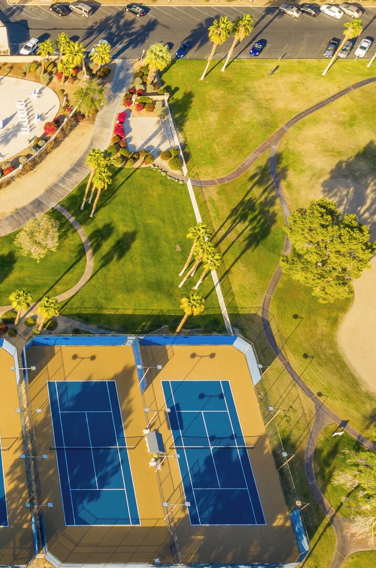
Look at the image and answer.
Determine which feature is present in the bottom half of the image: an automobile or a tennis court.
tennis court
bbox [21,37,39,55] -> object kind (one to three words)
car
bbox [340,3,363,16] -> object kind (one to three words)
vehicle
